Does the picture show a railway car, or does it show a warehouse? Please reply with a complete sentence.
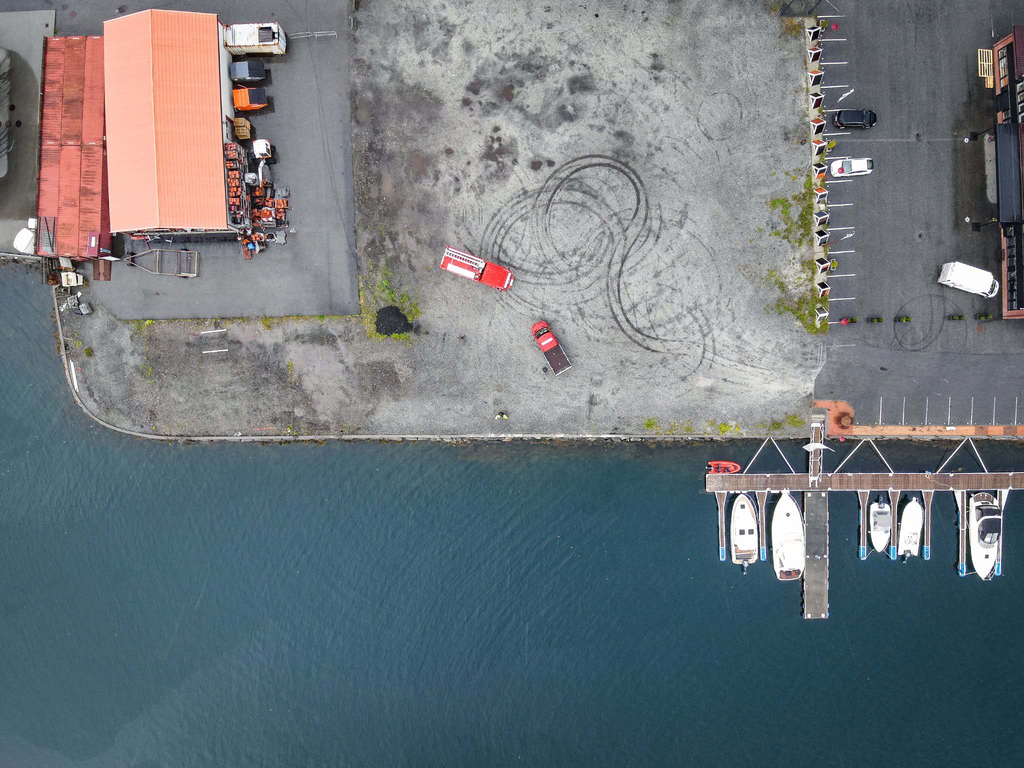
There is a warehouse in the scene.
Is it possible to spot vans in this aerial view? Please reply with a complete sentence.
Yes, the frame does contain a van.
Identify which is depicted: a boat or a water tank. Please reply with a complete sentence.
Visible in the photo is a boat.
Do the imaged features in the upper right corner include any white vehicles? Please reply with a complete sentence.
Yes, there is a white vehicle in the upper right corner.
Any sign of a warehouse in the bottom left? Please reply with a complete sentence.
No, no warehouse can be made out in the bottom left.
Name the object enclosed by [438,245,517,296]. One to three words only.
truck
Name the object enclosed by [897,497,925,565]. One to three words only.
boat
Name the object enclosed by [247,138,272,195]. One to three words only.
work vehicle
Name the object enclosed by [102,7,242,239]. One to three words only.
warehouse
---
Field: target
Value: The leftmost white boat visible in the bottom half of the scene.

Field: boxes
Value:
[729,495,758,573]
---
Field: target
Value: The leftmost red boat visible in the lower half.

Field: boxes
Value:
[702,461,741,473]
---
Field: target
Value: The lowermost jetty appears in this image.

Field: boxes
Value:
[800,490,830,618]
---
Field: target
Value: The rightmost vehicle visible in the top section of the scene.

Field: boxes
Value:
[926,261,1000,301]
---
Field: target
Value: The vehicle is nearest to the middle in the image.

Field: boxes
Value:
[531,321,574,378]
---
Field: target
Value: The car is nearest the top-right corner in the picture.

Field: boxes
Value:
[835,106,879,128]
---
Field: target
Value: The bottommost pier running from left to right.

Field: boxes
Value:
[706,472,1024,492]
